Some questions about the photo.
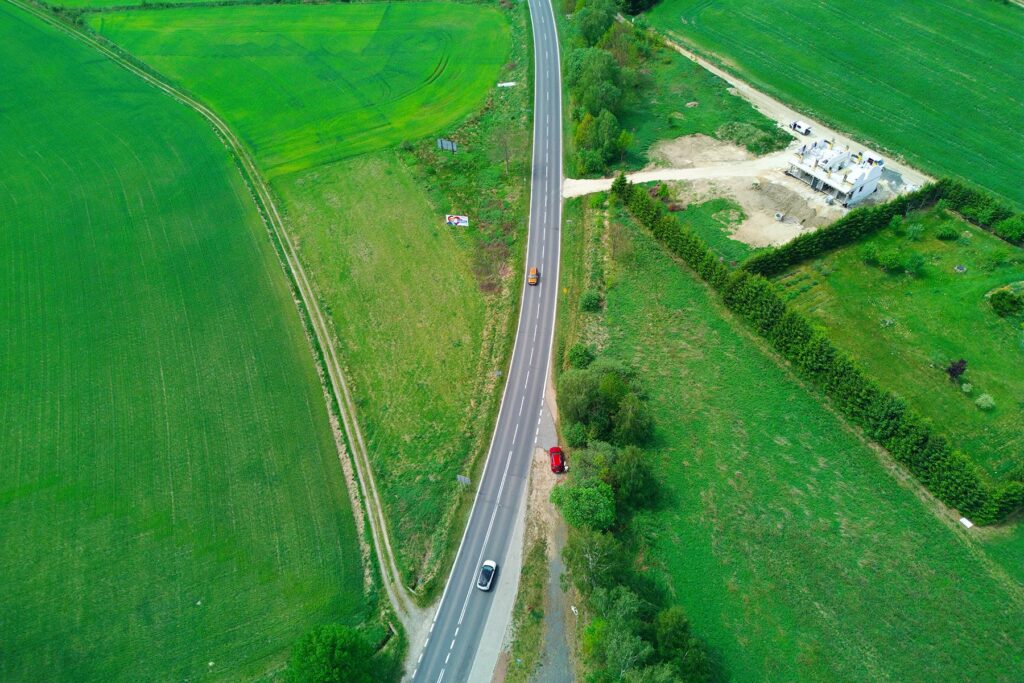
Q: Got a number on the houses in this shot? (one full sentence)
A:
There is 1 house in the image.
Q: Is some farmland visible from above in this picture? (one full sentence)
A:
Yes, farmland can be seen from above here.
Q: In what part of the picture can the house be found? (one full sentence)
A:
The house appears toward the top right of the photo.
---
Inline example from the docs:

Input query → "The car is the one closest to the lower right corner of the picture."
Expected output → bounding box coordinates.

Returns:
[550,448,564,474]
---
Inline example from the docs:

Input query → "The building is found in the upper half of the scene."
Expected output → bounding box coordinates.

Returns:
[783,138,882,206]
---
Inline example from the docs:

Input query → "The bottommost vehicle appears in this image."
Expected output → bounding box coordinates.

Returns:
[477,561,496,592]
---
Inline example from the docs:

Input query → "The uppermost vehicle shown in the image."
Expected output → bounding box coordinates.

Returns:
[790,121,812,135]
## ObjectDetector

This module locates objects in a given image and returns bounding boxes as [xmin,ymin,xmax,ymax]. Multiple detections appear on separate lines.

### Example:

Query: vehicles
[550,448,564,474]
[527,267,538,284]
[477,561,496,592]
[790,121,812,135]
